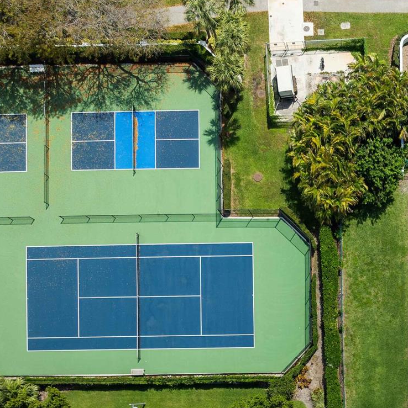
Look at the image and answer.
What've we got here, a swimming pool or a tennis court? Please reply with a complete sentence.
The one in the frame is a tennis court.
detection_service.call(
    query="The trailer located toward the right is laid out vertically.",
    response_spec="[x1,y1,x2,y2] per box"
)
[276,64,297,106]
